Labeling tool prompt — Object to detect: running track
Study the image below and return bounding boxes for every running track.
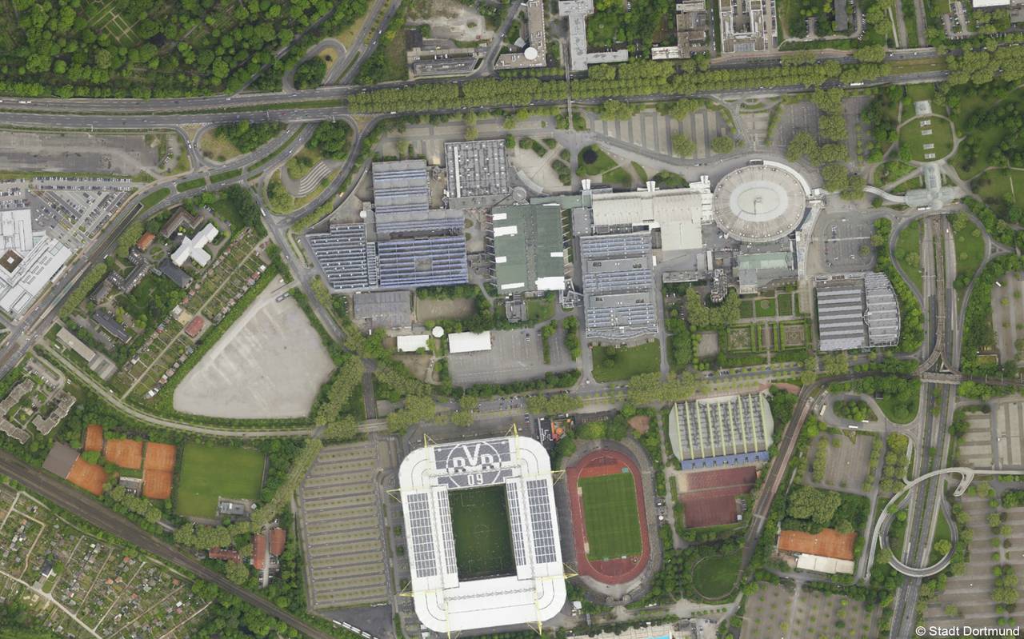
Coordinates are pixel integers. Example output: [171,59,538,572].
[555,431,665,603]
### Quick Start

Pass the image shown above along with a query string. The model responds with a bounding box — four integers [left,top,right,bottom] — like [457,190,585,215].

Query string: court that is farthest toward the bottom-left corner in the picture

[66,456,107,494]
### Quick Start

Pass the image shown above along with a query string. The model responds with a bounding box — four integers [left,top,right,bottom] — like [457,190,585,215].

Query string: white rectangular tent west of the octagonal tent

[397,335,429,352]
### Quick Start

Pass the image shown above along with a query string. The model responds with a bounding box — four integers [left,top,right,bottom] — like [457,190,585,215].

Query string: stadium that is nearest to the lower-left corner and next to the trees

[389,421,578,639]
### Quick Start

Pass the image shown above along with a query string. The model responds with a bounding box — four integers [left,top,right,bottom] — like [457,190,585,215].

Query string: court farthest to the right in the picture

[778,528,856,560]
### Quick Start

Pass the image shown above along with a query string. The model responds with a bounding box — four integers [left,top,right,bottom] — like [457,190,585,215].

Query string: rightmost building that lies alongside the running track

[668,392,772,469]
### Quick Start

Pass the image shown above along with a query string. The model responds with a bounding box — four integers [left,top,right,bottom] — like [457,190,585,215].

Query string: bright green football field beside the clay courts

[175,444,265,518]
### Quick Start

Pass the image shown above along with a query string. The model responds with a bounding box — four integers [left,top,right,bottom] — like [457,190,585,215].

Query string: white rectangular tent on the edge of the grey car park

[448,331,491,353]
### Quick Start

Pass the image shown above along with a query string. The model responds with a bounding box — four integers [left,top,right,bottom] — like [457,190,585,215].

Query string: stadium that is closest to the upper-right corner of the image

[713,164,806,242]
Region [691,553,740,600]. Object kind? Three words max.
sports field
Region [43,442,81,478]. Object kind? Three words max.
building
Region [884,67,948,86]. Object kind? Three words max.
overpass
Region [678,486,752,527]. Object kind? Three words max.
sports court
